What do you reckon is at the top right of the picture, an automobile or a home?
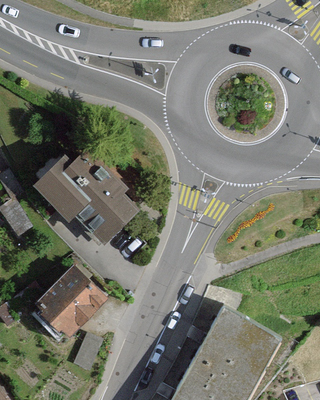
automobile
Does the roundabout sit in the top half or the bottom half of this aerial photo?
top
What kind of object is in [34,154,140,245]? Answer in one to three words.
house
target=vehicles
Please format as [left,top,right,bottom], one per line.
[60,24,81,38]
[180,284,195,304]
[168,310,182,329]
[2,4,20,18]
[282,68,302,85]
[286,388,300,400]
[112,230,132,249]
[123,238,144,258]
[151,344,166,364]
[143,38,164,48]
[231,44,252,56]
